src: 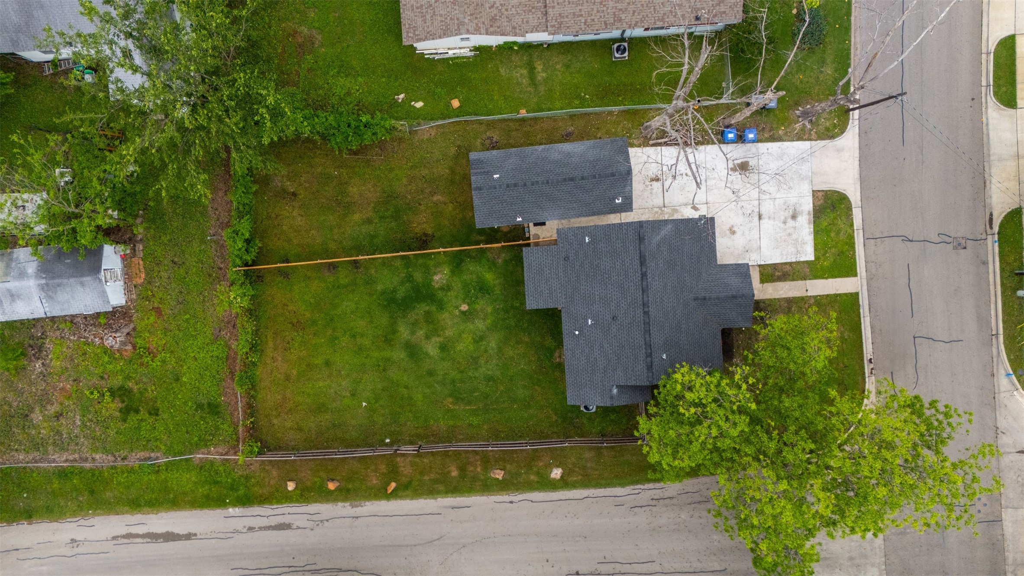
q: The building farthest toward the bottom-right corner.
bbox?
[523,214,757,407]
